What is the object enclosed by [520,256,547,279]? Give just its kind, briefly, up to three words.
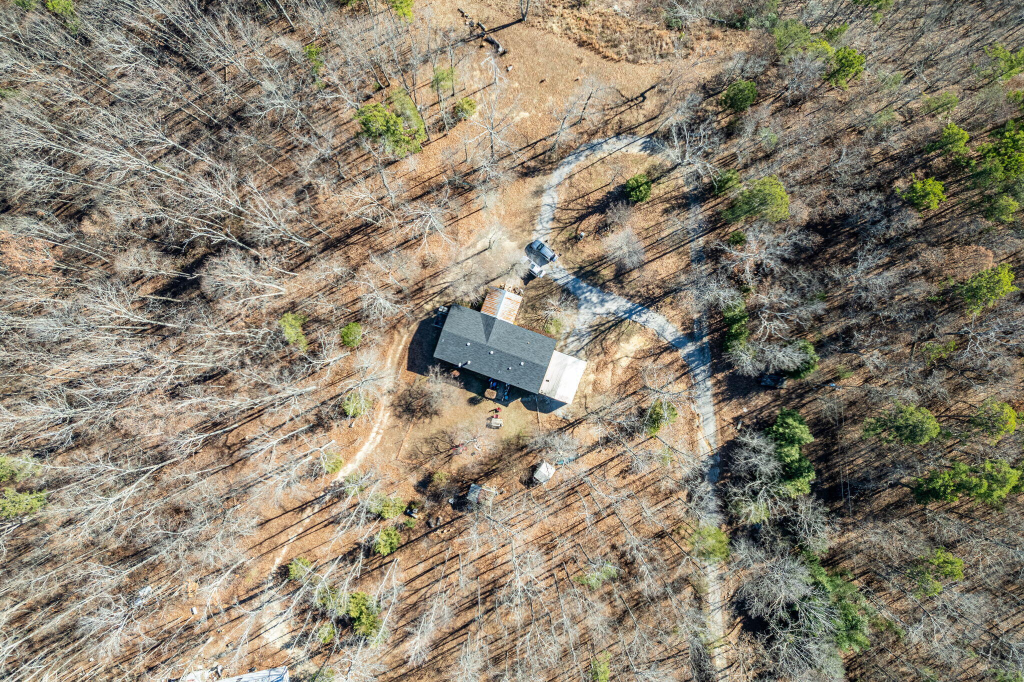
car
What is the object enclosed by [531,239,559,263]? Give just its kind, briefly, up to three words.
car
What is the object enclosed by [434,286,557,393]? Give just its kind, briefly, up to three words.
house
